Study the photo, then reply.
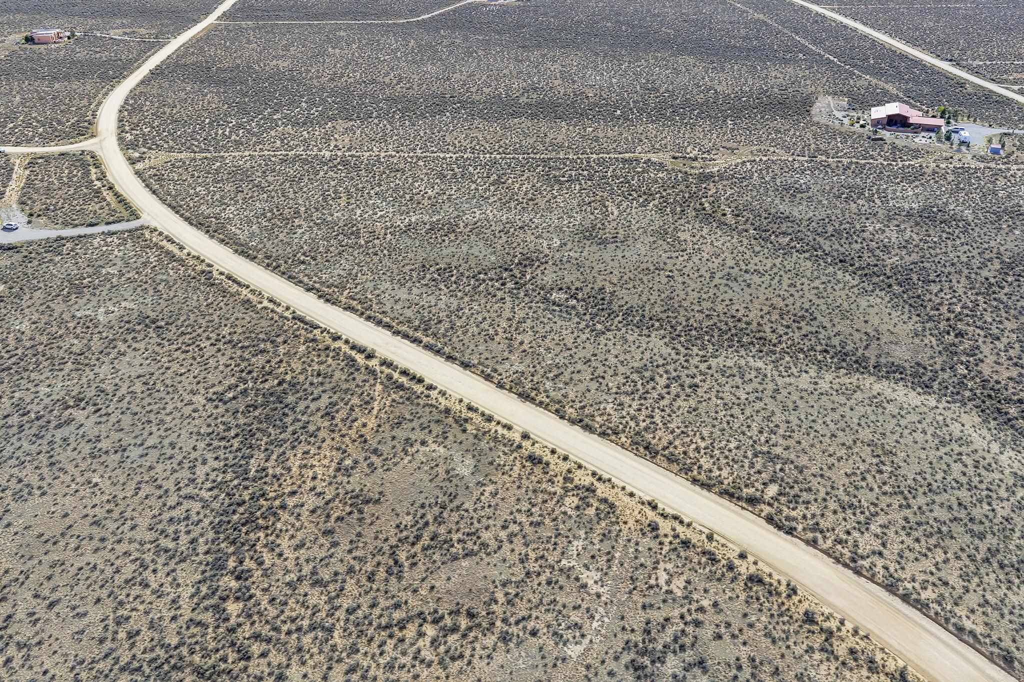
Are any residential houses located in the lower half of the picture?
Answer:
No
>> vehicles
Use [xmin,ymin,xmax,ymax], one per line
[2,220,19,228]
[959,129,971,141]
[947,125,964,132]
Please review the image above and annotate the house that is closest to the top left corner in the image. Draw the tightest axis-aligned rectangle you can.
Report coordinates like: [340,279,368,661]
[28,30,66,43]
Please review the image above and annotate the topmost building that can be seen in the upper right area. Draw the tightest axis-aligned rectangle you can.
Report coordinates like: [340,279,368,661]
[870,103,944,136]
